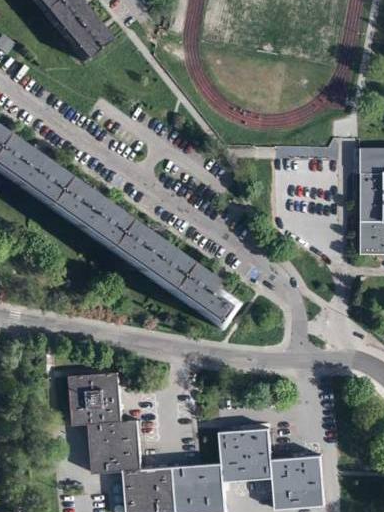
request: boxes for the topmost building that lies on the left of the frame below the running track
[0,126,238,323]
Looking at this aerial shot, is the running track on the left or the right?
right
